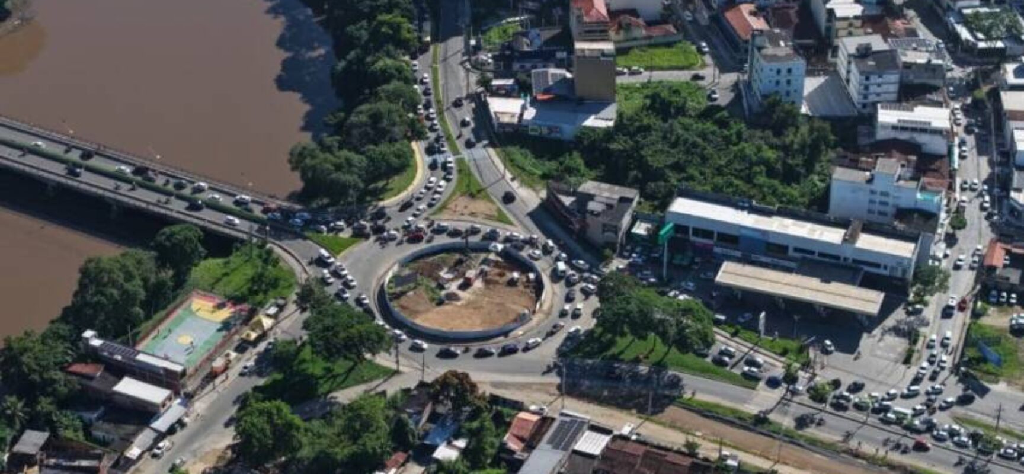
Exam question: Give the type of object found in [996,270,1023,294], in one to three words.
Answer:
shed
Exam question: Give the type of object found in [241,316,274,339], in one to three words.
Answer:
tent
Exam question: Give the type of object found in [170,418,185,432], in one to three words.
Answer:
car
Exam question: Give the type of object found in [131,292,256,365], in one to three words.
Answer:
sports court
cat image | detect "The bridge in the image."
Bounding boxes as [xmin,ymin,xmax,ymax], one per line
[0,114,304,239]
